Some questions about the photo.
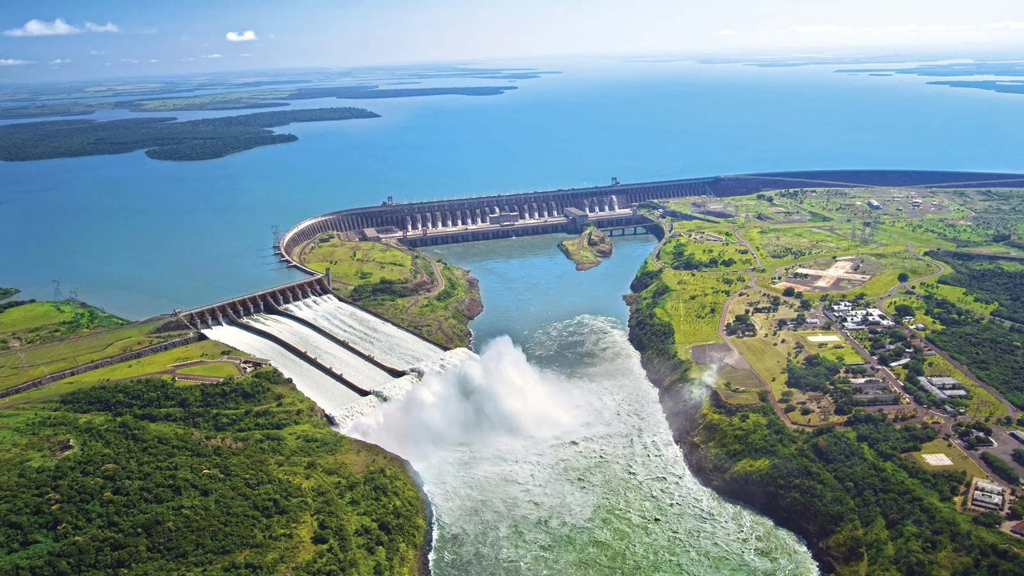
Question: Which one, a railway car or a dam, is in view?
dam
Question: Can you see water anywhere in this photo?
Yes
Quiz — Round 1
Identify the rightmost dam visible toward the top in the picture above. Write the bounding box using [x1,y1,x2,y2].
[717,169,1024,195]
